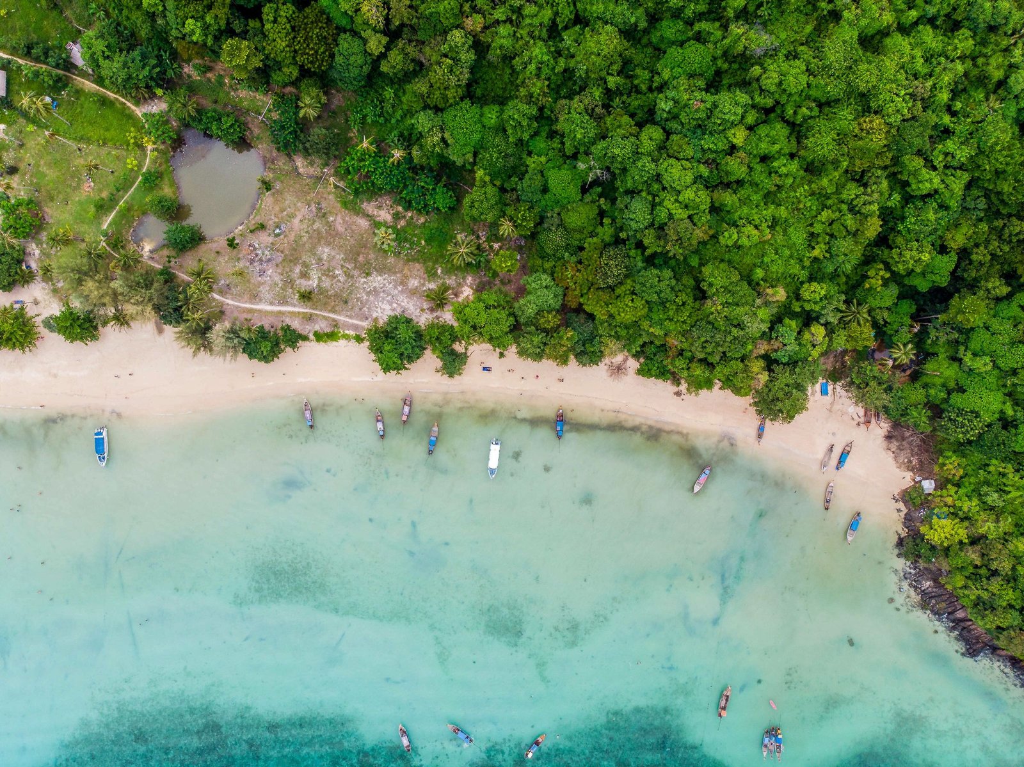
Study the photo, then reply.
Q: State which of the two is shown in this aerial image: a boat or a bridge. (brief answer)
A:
boat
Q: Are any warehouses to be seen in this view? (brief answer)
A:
No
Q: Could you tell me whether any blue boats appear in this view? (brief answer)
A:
Yes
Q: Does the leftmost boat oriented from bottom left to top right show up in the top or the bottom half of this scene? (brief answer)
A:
bottom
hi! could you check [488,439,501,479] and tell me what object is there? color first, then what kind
white boat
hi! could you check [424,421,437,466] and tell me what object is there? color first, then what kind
blue boat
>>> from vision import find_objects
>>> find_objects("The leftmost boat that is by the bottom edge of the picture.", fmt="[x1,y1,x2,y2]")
[398,725,415,761]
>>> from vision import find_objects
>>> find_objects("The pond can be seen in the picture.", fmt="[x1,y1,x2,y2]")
[133,128,267,252]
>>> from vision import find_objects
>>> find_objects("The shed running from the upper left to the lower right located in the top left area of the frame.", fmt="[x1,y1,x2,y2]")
[66,43,91,68]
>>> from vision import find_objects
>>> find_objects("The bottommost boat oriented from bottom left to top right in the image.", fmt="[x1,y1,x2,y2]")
[524,736,546,760]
